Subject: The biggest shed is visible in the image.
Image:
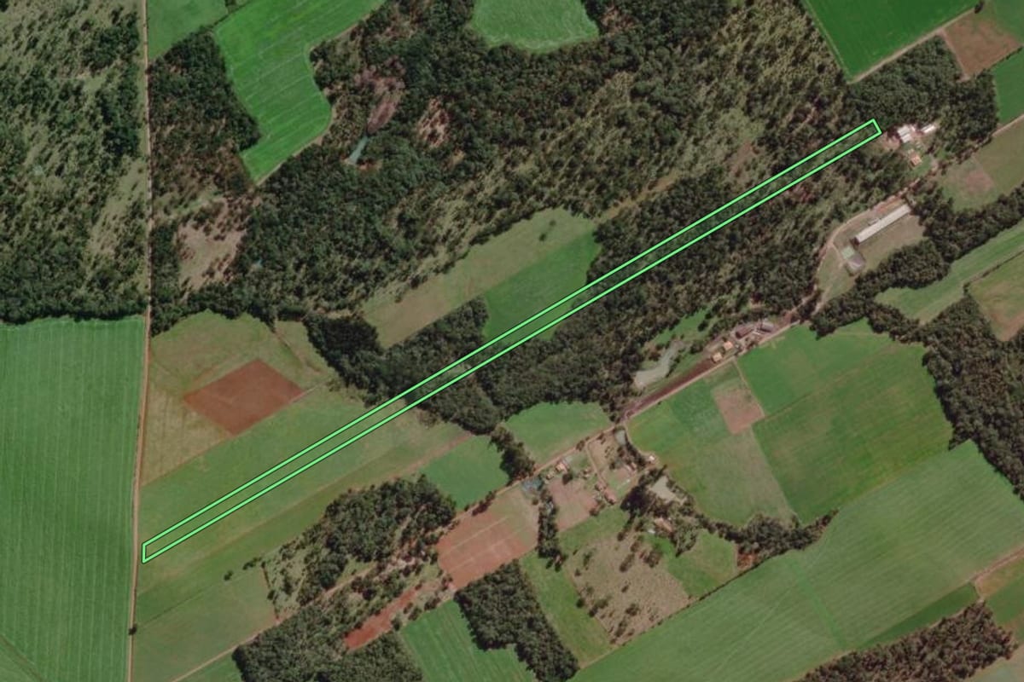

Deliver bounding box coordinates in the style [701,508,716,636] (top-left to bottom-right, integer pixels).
[857,204,912,242]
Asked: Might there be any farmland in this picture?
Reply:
Yes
